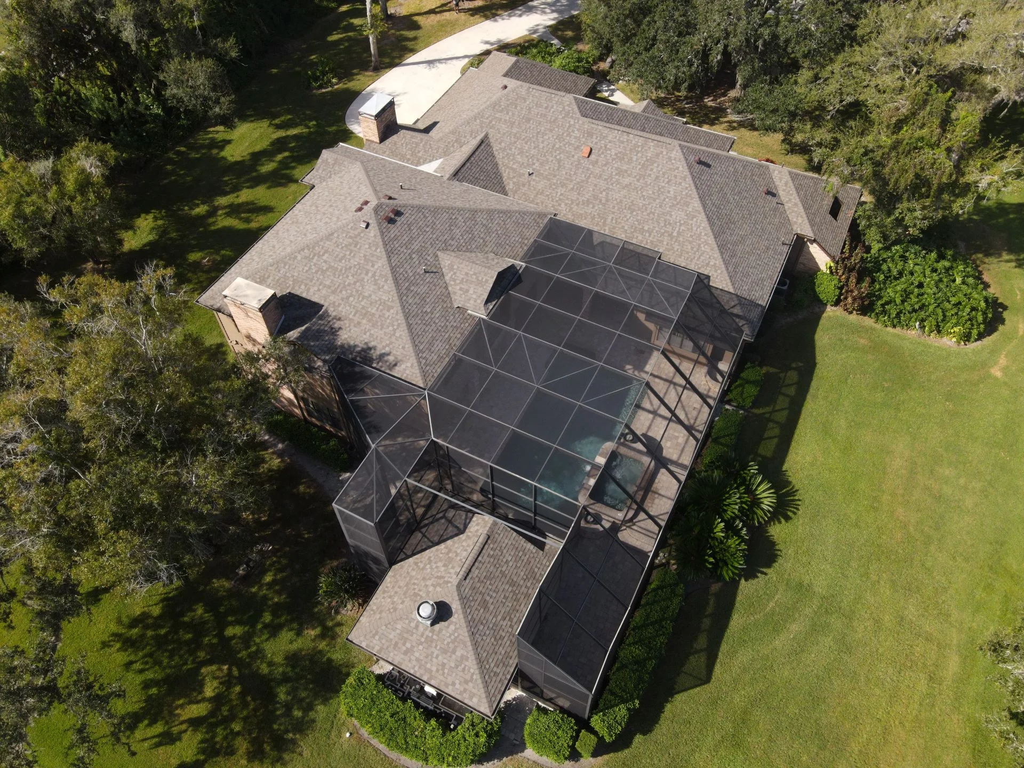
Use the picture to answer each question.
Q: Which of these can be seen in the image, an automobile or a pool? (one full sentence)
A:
The one in the frame is a pool.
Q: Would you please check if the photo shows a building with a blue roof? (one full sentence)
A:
No, there isn't any building with a blue roof down there.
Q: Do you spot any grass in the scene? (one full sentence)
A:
Yes, some grass is visible.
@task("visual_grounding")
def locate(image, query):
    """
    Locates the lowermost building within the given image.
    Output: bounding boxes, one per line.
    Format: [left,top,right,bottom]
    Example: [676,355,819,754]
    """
[344,505,569,724]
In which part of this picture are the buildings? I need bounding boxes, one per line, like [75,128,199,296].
[195,53,863,455]
[344,505,569,724]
